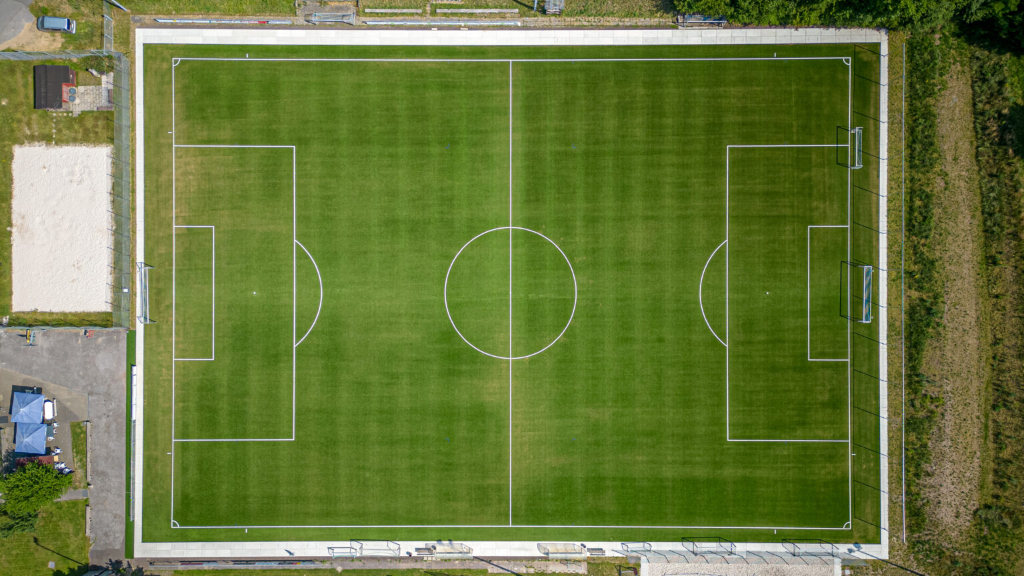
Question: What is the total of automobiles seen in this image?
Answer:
one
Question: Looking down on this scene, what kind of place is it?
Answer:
sports ground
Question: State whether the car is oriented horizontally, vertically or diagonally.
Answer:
horizontally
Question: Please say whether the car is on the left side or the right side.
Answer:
left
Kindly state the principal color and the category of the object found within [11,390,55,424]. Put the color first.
blue gazebo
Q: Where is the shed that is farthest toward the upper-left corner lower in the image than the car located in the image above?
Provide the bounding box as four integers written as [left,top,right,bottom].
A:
[35,64,76,109]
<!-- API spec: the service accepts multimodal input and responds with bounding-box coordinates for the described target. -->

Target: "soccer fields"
[142,43,881,544]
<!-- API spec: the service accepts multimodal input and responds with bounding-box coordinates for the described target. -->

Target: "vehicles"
[38,15,77,36]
